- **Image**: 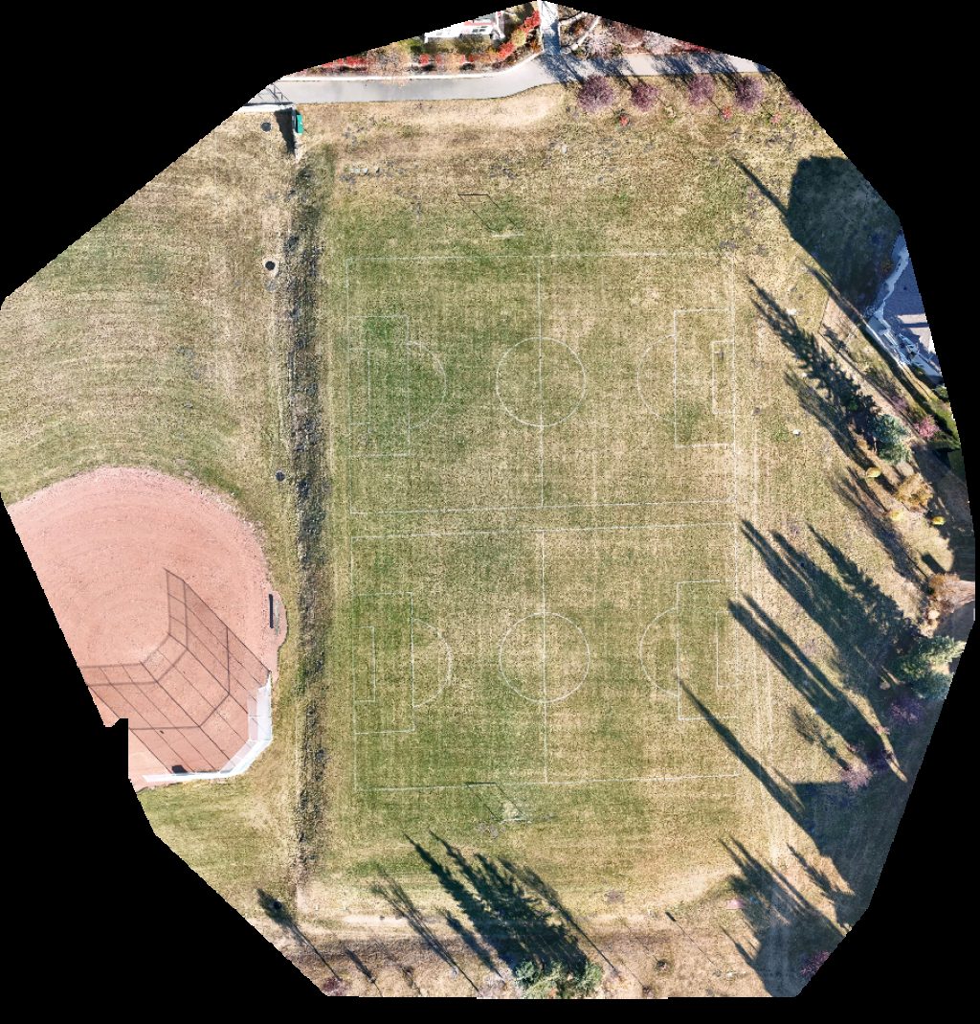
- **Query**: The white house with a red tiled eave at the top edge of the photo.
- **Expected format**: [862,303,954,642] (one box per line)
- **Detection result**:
[422,11,507,41]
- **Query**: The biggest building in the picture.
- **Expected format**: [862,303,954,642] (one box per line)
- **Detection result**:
[862,238,944,375]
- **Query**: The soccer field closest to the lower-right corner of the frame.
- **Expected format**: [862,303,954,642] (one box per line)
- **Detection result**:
[349,521,742,793]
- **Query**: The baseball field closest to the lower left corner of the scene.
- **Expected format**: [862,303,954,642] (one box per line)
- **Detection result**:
[7,467,287,791]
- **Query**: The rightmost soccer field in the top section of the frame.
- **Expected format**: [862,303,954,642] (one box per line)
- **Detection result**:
[344,250,739,516]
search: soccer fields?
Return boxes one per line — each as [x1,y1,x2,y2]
[344,250,739,516]
[349,521,742,793]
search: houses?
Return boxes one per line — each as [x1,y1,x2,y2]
[862,238,944,375]
[422,11,507,41]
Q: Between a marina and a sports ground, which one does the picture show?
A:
sports ground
